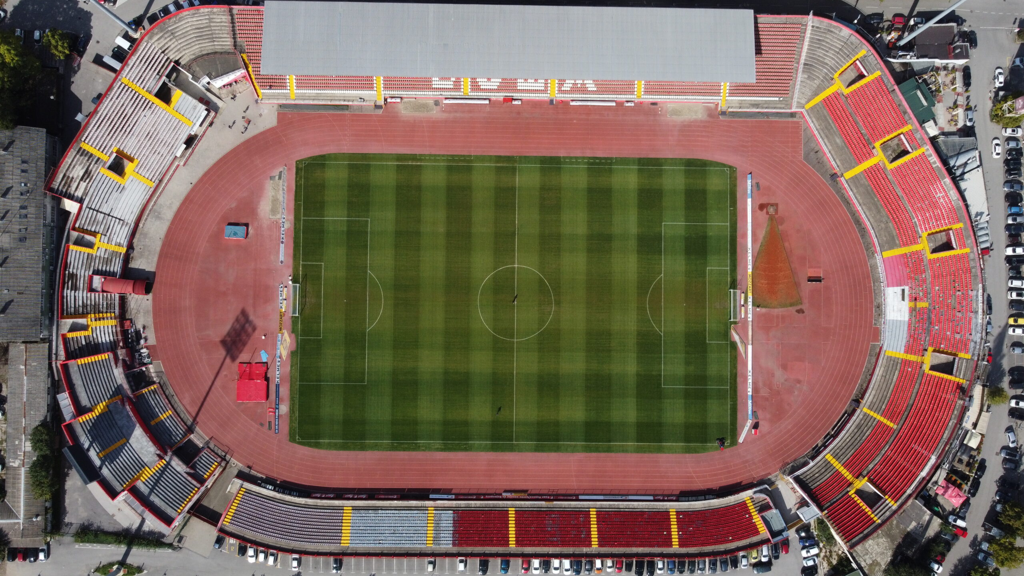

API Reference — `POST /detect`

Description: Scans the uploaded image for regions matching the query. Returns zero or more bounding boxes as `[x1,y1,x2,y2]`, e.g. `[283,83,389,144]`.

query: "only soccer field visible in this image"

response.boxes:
[289,153,738,454]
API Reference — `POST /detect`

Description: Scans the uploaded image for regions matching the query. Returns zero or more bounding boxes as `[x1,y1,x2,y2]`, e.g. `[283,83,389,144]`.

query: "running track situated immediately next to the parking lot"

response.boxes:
[145,99,877,497]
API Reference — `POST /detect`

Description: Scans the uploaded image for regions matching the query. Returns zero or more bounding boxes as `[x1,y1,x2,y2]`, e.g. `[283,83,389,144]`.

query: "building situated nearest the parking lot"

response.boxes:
[757,503,788,542]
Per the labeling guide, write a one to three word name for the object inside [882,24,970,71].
building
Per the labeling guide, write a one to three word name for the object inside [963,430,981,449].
umbrella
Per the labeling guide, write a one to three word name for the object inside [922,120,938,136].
umbrella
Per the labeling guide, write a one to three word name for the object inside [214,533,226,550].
vehicle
